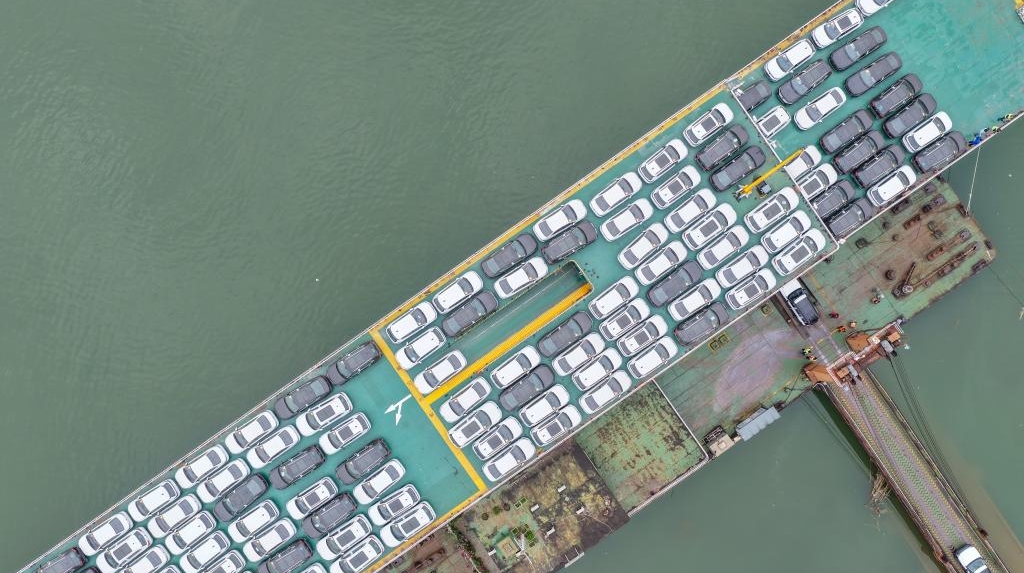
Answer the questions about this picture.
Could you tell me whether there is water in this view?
Yes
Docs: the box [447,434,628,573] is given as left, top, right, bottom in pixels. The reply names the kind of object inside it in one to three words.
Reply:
boat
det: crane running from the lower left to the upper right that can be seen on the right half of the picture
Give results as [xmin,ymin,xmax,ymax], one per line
[729,151,804,202]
